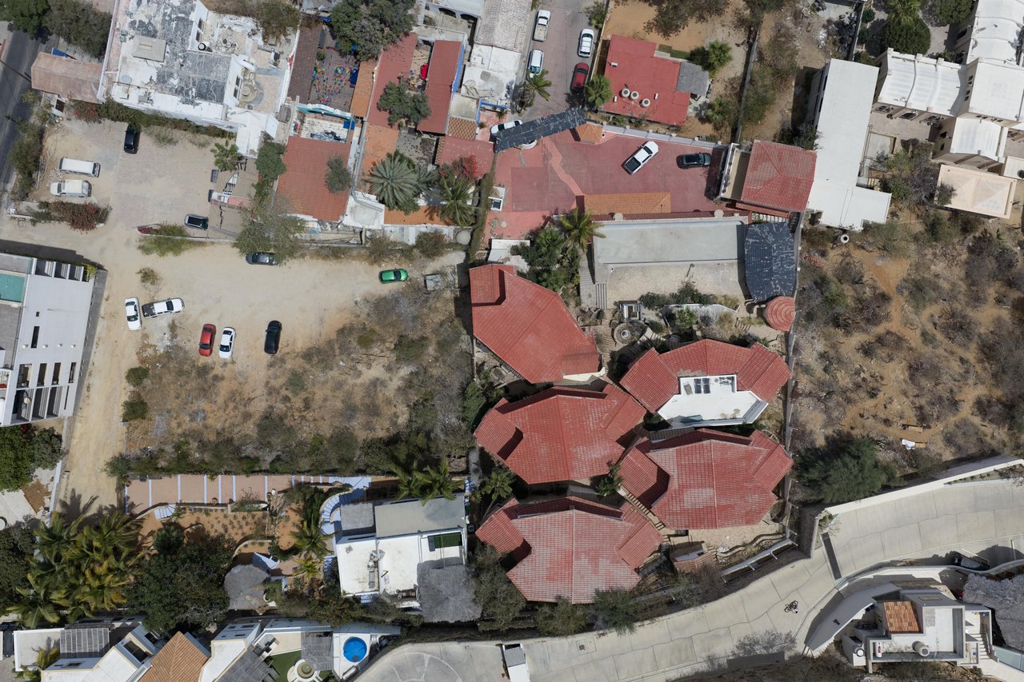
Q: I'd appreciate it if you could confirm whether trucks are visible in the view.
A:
Yes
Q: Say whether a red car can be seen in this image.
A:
Yes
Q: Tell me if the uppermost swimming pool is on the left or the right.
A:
left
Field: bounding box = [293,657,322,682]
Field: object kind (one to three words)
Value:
fountain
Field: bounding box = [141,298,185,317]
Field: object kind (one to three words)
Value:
vehicle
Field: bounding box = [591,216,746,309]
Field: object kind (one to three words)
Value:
building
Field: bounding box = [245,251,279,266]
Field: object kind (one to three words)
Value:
car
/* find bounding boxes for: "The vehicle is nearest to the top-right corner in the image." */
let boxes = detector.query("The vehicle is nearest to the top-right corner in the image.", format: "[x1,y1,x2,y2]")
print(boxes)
[676,151,710,168]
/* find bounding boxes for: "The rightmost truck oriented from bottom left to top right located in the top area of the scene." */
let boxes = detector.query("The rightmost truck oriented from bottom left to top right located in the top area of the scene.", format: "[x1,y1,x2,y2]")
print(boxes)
[621,140,658,176]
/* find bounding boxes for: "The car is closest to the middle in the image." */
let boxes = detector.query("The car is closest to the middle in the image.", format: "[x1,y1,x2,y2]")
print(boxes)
[379,268,408,283]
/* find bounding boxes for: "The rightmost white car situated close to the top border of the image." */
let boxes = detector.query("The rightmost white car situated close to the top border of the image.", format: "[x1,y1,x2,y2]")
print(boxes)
[578,27,595,60]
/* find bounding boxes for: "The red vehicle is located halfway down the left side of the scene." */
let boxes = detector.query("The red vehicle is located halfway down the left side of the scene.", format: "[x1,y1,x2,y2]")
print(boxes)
[198,324,217,356]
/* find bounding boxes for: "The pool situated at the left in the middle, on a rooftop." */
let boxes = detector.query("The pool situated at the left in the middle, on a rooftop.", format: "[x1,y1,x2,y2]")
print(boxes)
[0,271,26,303]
